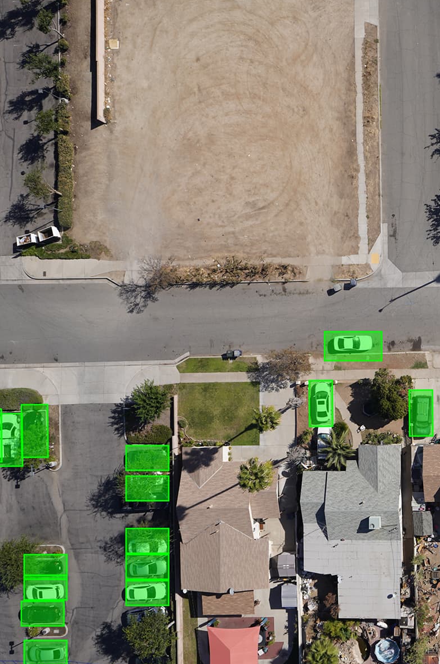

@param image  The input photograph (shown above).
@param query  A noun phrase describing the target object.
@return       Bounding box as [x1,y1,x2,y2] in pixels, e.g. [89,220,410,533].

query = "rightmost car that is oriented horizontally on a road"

[334,335,372,352]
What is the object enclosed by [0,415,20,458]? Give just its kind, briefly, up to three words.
vehicle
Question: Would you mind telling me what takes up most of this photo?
paved ground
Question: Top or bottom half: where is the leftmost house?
bottom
